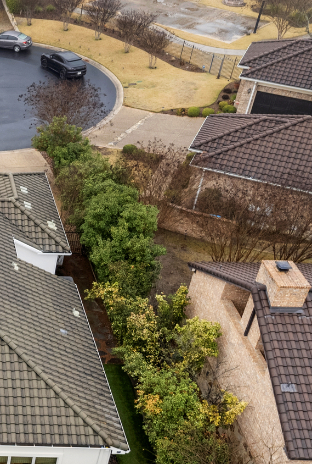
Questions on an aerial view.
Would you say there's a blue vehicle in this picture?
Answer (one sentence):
No, there is no blue vehicle in the image.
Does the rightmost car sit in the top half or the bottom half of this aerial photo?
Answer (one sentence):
The rightmost car is in the top half of the image.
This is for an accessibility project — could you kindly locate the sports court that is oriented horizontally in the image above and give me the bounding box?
[96,0,273,43]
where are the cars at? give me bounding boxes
[39,52,88,81]
[0,30,33,55]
